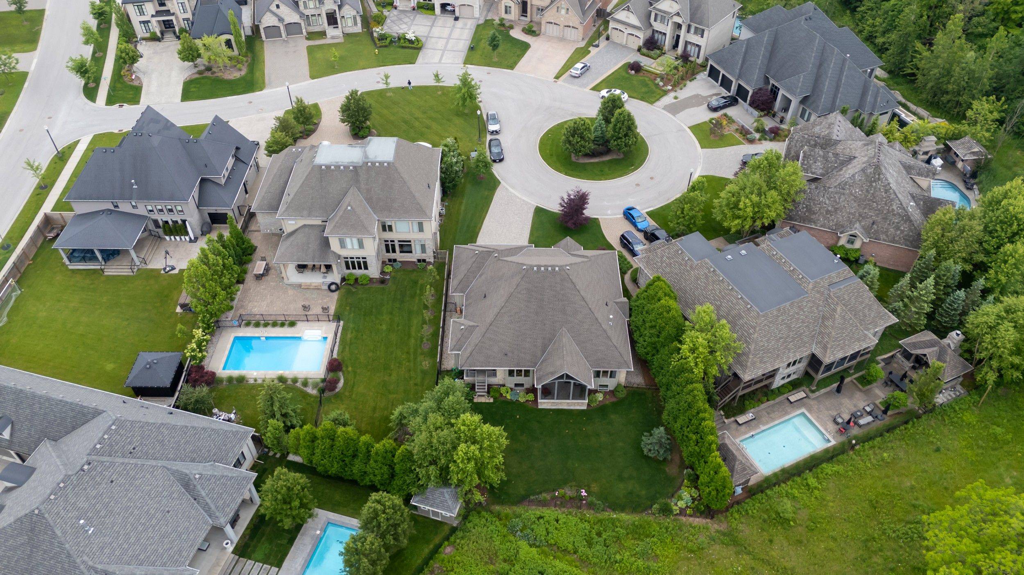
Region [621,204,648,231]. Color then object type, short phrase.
blue car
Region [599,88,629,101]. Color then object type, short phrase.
white vehicle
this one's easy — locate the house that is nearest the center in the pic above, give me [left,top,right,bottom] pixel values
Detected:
[448,236,634,408]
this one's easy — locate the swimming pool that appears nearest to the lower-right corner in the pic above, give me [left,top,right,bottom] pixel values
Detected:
[741,412,827,471]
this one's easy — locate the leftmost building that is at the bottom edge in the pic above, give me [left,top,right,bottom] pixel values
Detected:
[0,365,259,575]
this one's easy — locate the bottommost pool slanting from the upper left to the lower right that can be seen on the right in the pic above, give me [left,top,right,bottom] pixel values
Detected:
[934,181,968,216]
